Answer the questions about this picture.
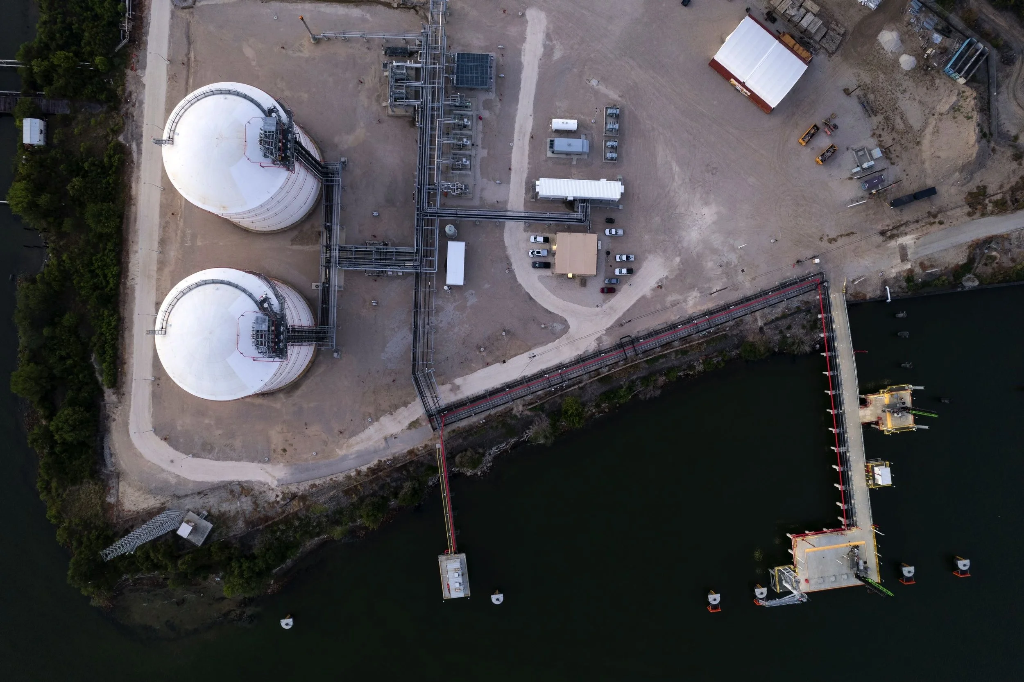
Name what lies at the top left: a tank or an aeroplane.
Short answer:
tank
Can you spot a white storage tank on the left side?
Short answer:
Yes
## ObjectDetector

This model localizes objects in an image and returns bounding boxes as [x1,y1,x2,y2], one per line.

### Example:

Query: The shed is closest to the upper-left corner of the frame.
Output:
[24,118,50,150]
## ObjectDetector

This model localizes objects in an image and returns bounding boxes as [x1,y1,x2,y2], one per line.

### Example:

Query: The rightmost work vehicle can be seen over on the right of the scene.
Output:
[821,117,839,135]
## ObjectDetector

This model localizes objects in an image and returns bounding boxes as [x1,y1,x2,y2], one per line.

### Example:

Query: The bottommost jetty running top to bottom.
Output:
[435,417,459,557]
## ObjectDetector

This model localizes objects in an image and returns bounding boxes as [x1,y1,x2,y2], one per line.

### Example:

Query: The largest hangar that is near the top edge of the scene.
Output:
[709,12,810,113]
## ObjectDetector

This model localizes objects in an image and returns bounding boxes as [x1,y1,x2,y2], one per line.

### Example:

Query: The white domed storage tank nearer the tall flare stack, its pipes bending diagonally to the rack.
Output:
[140,80,324,232]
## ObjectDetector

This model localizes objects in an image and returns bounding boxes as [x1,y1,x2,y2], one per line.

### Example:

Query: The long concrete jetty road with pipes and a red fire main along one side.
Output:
[813,280,874,529]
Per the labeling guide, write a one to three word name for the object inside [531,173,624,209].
building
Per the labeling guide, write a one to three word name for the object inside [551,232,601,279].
building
